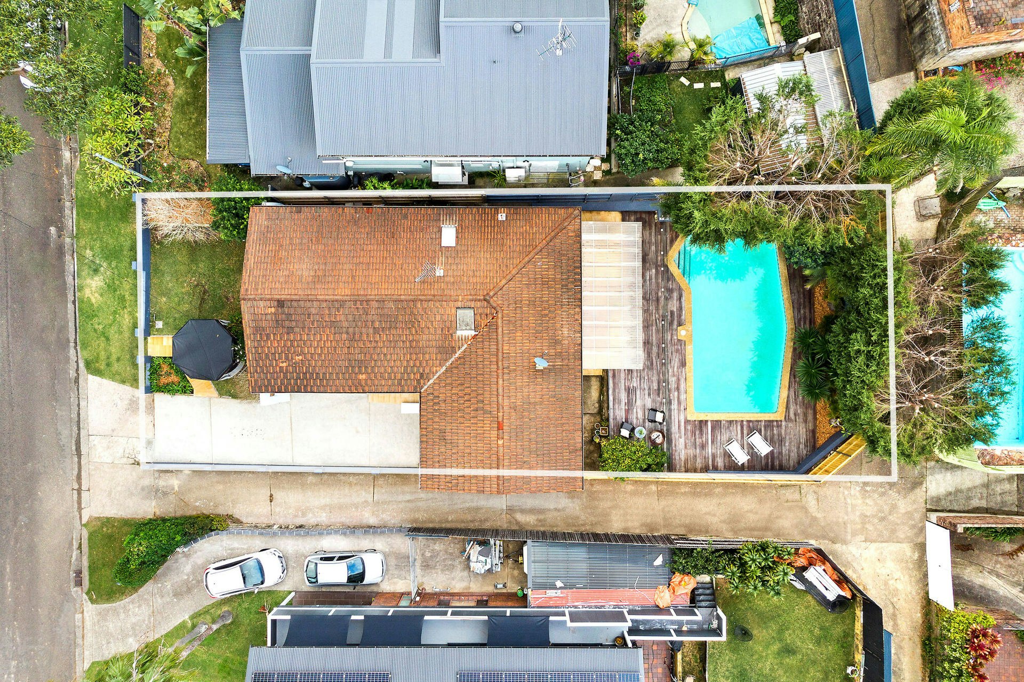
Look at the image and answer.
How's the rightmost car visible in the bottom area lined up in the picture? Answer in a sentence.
The rightmost car visible in the bottom area runs from side to side in the image.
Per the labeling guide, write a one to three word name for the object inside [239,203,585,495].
house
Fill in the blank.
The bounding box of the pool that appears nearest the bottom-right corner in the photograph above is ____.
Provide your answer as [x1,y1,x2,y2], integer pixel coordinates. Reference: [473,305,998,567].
[960,245,1024,450]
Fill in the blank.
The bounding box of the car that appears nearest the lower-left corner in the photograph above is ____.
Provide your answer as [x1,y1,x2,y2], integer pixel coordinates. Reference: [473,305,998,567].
[199,549,290,601]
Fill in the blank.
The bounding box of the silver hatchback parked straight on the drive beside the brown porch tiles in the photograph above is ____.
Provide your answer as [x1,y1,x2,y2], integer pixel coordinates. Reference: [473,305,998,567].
[303,549,385,592]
